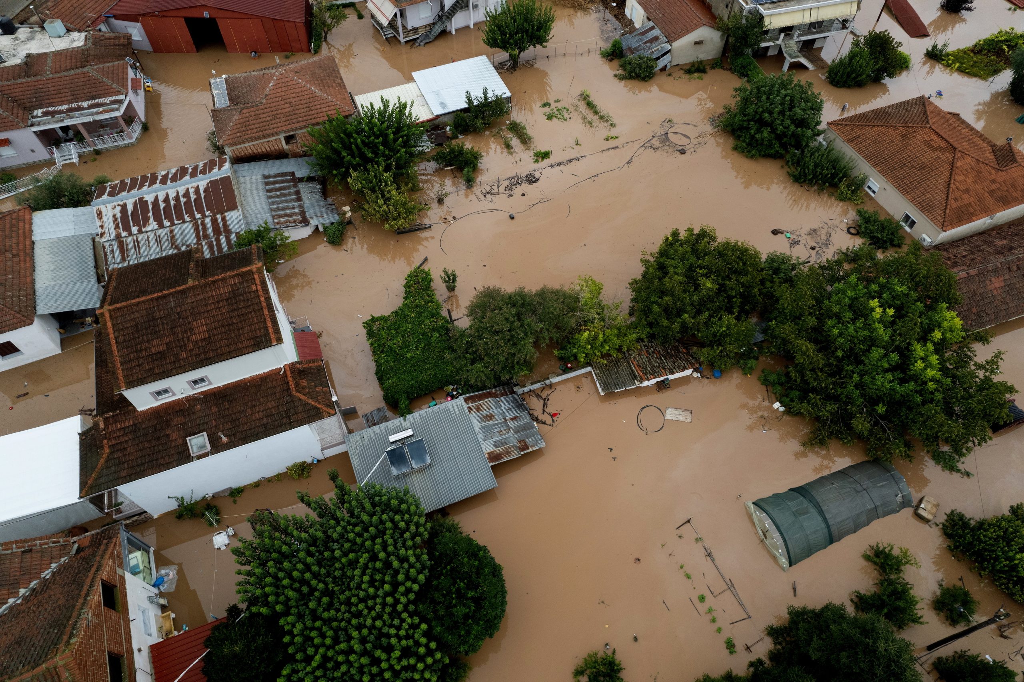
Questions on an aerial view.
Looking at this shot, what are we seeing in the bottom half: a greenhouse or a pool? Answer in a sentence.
You can see a greenhouse in the bottom half.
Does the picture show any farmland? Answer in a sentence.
No, farmland can't be seen anywhere here.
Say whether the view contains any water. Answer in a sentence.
Yes, water can be seen from above here.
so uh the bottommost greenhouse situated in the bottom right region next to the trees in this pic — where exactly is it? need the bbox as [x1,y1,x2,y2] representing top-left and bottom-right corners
[743,452,921,569]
